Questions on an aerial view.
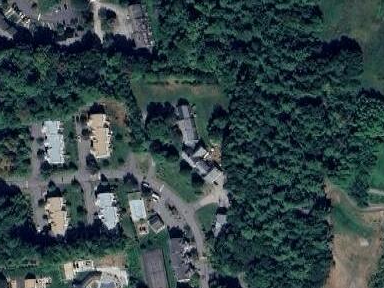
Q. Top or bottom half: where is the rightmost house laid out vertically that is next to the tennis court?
bottom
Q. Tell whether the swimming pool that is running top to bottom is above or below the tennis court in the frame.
above it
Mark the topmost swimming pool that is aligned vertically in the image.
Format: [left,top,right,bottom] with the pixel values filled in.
[129,197,149,236]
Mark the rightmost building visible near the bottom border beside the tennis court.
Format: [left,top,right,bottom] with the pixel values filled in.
[166,237,189,284]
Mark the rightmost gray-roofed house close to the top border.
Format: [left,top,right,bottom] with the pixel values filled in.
[126,5,152,49]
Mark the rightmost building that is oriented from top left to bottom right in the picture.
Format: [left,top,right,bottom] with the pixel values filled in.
[184,145,222,187]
